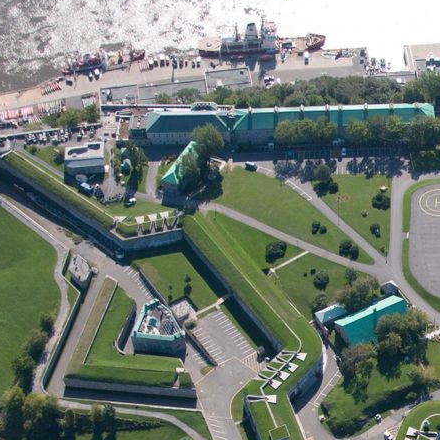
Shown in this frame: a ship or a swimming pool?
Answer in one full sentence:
The one in the frame is a ship.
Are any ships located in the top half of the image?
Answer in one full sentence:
Yes, a ship shows up in the top half of the image.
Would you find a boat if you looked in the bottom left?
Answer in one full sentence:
No, I can find no boat in the bottom left.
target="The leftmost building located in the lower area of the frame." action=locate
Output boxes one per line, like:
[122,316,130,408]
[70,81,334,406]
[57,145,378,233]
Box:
[70,254,94,289]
